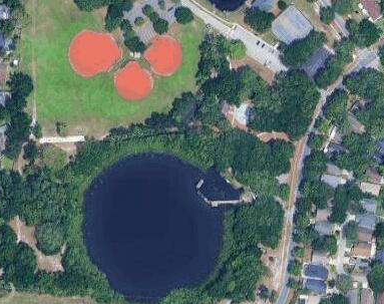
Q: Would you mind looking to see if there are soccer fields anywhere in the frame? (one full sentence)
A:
No, I find no soccer field anywhere in the image.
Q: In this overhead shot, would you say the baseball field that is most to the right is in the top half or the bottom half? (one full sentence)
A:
The baseball field that is most to the right is in the top half of the image.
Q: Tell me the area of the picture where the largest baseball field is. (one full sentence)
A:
Look in the top left portion of the view to spot the largest baseball field.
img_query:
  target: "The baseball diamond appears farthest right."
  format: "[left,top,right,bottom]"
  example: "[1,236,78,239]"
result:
[142,34,183,76]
